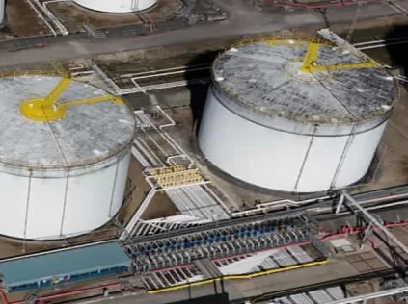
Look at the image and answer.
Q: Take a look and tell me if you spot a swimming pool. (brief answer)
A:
No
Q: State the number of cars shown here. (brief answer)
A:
0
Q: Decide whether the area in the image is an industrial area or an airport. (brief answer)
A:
industrial area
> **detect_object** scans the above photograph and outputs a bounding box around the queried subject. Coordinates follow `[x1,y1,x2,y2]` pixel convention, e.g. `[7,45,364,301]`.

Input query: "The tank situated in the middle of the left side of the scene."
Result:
[0,69,137,243]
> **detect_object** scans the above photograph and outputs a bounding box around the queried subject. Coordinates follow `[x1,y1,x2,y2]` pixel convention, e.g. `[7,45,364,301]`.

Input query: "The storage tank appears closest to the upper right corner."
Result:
[195,35,400,194]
